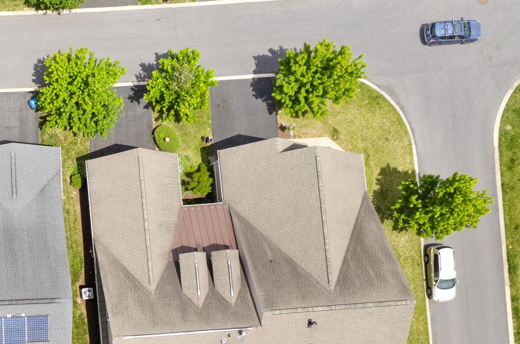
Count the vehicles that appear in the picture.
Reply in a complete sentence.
In total, 2 vehicles can be seen.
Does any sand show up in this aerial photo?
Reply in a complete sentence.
No, no sand is visible.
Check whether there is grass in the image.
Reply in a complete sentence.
Yes, there's grass in this view.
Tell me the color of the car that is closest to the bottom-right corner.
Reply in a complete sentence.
The car that is closest to the bottom-right corner is white.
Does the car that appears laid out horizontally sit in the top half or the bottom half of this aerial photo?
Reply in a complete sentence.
Seen from above, the car that appears laid out horizontally lies in the top half of the view.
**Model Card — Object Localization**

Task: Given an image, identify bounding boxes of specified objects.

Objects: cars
[426,245,458,301]
[419,17,477,47]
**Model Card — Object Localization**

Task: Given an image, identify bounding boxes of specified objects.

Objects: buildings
[0,143,72,344]
[81,138,415,344]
